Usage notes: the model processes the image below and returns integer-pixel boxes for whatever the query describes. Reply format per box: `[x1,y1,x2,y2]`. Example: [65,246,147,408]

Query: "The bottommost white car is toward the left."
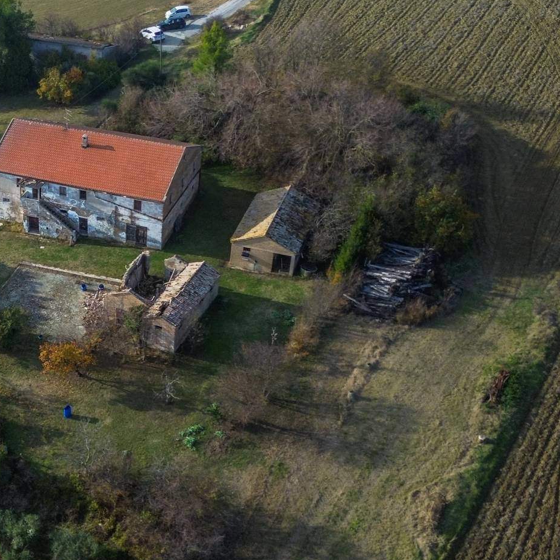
[140,28,167,42]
